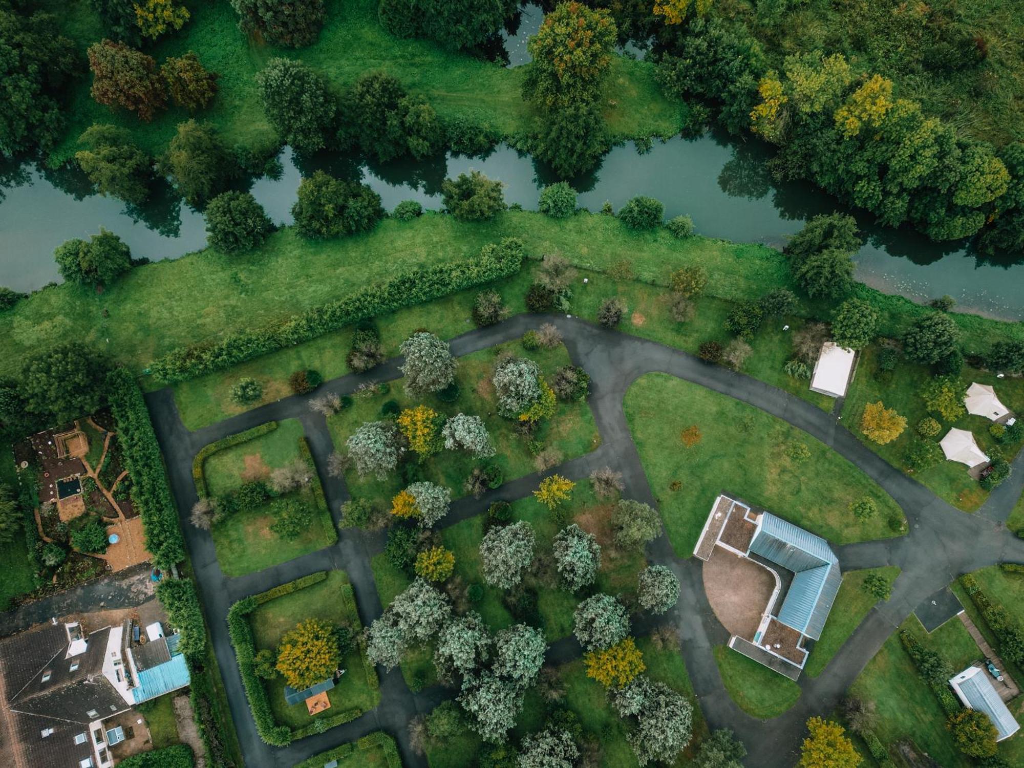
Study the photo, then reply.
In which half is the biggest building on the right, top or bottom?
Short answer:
bottom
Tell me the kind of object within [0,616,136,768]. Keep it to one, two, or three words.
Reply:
house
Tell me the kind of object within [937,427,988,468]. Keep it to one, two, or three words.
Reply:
tent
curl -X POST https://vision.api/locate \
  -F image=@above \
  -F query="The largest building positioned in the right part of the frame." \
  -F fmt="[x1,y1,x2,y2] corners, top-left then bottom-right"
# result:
[691,494,842,681]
